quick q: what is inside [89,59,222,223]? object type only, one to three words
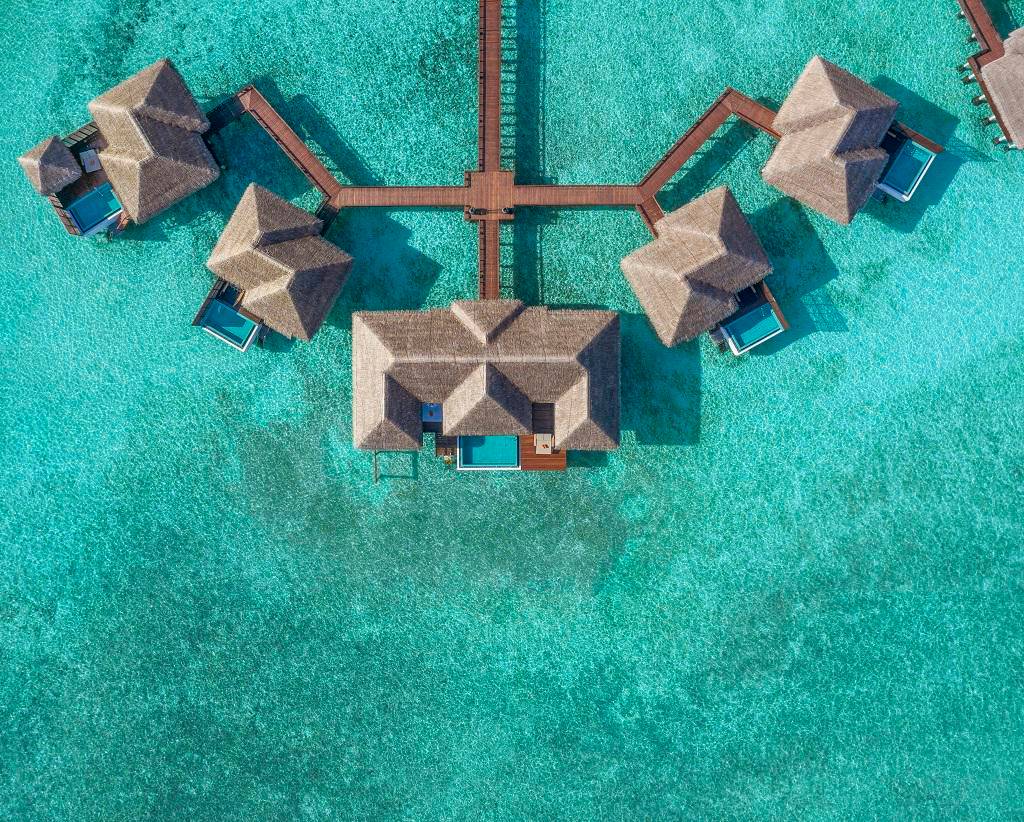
house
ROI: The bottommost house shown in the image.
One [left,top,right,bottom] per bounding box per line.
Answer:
[351,300,622,451]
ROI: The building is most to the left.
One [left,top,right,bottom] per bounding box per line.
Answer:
[17,136,83,197]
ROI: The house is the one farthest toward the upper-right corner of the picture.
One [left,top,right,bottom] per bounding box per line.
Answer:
[954,11,1024,154]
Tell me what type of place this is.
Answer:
residential area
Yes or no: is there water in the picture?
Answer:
Yes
